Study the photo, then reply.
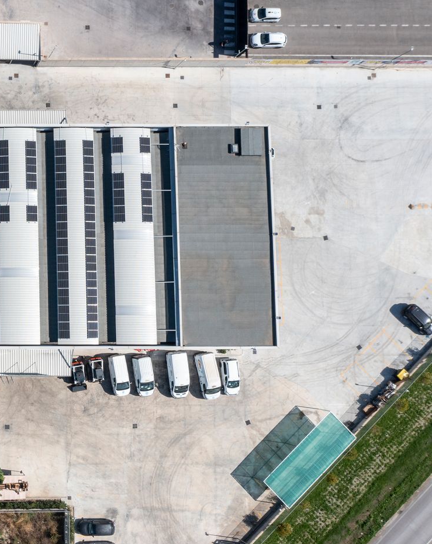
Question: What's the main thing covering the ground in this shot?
paved ground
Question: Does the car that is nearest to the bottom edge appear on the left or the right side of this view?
left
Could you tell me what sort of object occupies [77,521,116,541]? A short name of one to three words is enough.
car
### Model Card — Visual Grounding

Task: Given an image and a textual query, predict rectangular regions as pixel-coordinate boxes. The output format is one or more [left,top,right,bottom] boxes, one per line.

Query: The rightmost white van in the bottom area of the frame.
[195,353,227,403]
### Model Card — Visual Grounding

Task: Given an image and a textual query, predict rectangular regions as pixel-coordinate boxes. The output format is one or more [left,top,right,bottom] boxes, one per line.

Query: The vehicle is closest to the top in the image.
[251,3,287,22]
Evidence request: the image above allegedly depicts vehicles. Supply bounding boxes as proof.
[87,358,107,382]
[77,521,116,541]
[107,354,135,398]
[251,3,287,22]
[405,306,432,341]
[133,355,159,397]
[71,361,91,389]
[168,353,195,400]
[195,353,227,403]
[252,29,289,47]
